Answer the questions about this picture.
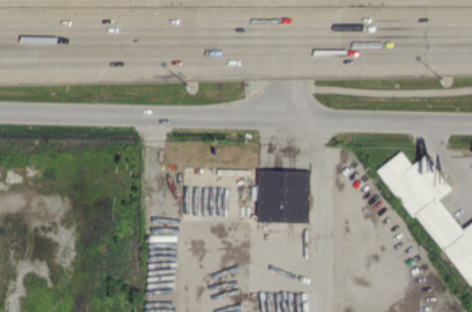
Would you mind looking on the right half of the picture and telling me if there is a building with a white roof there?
Yes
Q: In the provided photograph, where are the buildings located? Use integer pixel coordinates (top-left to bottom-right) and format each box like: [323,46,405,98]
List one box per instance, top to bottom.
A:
[377,152,472,286]
[258,170,309,222]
